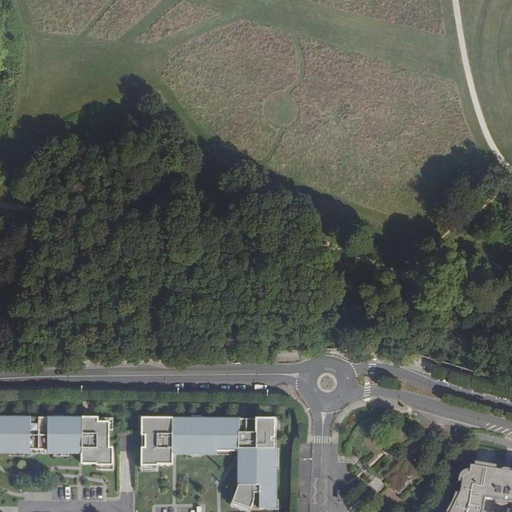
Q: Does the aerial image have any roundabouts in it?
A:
Yes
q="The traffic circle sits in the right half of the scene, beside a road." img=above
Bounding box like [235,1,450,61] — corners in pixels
[292,356,380,430]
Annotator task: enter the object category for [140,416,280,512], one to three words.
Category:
building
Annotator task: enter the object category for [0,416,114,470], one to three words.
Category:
building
